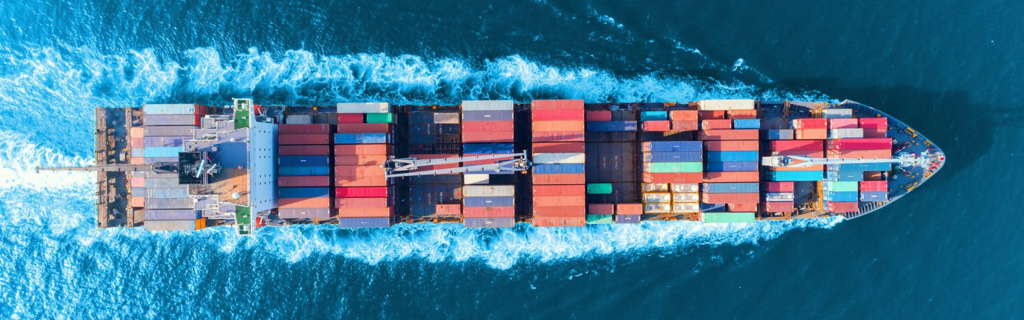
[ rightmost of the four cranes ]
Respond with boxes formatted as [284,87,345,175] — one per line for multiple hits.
[759,154,909,168]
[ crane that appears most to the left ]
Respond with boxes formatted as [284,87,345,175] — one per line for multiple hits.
[35,162,178,176]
